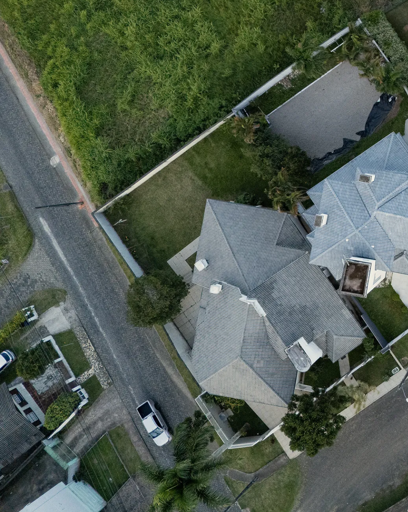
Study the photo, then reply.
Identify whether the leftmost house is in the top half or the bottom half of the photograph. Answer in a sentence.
The leftmost house sits in the bottom half of the picture.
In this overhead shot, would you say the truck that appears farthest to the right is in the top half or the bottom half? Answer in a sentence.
The truck that appears farthest to the right is in the bottom half of the image.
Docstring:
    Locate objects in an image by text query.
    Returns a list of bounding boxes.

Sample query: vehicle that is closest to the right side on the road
[135,398,173,445]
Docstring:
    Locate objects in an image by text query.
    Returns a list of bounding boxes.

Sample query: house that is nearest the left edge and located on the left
[0,376,57,470]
